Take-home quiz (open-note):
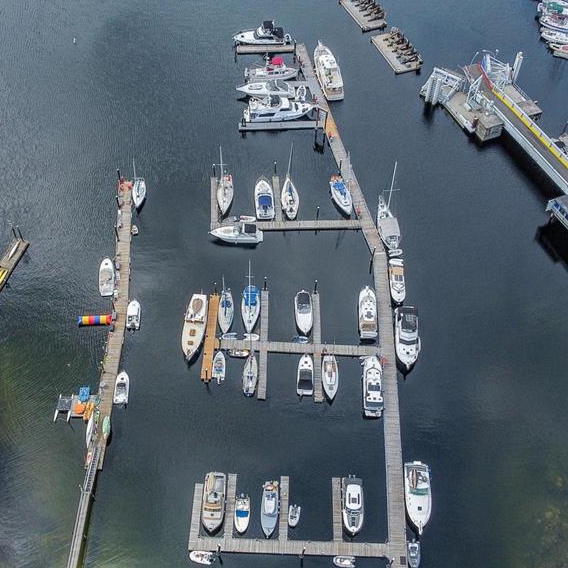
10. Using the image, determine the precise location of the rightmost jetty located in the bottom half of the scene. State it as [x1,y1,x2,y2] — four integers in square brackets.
[372,253,409,568]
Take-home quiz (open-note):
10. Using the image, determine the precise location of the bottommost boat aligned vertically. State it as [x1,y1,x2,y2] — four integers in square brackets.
[407,538,420,568]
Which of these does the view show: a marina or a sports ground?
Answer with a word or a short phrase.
marina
